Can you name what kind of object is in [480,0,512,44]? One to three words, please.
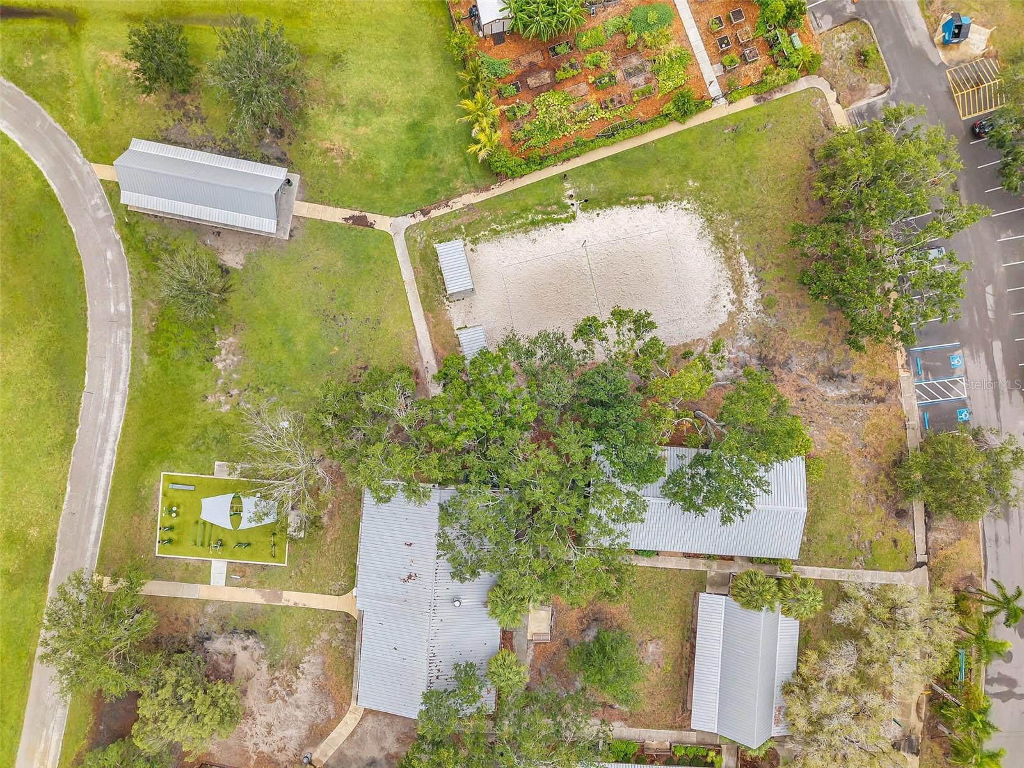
shed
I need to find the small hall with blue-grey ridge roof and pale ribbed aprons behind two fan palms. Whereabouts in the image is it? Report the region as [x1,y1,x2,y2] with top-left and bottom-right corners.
[690,592,800,749]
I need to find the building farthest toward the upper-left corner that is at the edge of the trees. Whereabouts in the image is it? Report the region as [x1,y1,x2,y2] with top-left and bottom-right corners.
[113,138,288,234]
